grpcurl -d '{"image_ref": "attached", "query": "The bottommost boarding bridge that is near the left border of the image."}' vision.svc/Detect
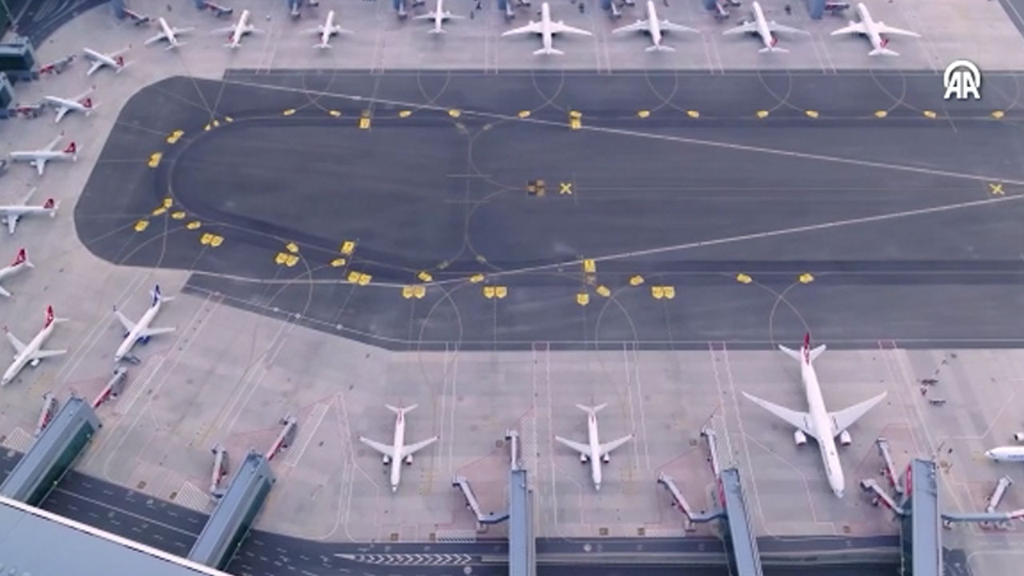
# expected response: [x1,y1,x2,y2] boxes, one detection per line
[33,392,58,439]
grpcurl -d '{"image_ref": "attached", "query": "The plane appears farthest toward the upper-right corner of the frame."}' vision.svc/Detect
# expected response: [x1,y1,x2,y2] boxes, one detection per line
[831,1,923,53]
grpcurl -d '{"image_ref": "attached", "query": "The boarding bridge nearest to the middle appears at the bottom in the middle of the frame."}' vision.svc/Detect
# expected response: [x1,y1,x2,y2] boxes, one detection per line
[504,431,520,475]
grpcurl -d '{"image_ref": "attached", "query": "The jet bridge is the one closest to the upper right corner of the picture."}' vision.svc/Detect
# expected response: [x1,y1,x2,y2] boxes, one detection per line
[825,5,852,17]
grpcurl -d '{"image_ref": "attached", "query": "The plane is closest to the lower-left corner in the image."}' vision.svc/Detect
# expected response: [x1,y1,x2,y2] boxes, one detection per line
[1,310,68,385]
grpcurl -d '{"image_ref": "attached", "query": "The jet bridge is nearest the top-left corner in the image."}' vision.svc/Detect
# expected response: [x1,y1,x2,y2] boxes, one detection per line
[31,54,80,79]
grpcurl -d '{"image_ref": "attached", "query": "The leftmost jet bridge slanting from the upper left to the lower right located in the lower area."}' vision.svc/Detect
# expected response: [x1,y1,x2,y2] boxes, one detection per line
[451,478,510,527]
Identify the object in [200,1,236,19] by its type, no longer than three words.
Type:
jet bridge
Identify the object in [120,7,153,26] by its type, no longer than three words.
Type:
jet bridge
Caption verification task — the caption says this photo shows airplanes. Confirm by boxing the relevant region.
[210,10,264,46]
[44,86,98,122]
[11,130,79,175]
[503,1,592,53]
[743,340,886,498]
[0,253,34,299]
[0,183,62,233]
[613,0,702,50]
[554,401,635,491]
[357,404,438,493]
[984,446,1024,460]
[723,0,813,51]
[1,310,68,385]
[113,291,175,362]
[143,17,196,51]
[831,1,923,53]
[412,0,464,32]
[83,45,129,75]
[299,10,353,47]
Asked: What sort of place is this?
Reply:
airport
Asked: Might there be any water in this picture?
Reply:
No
